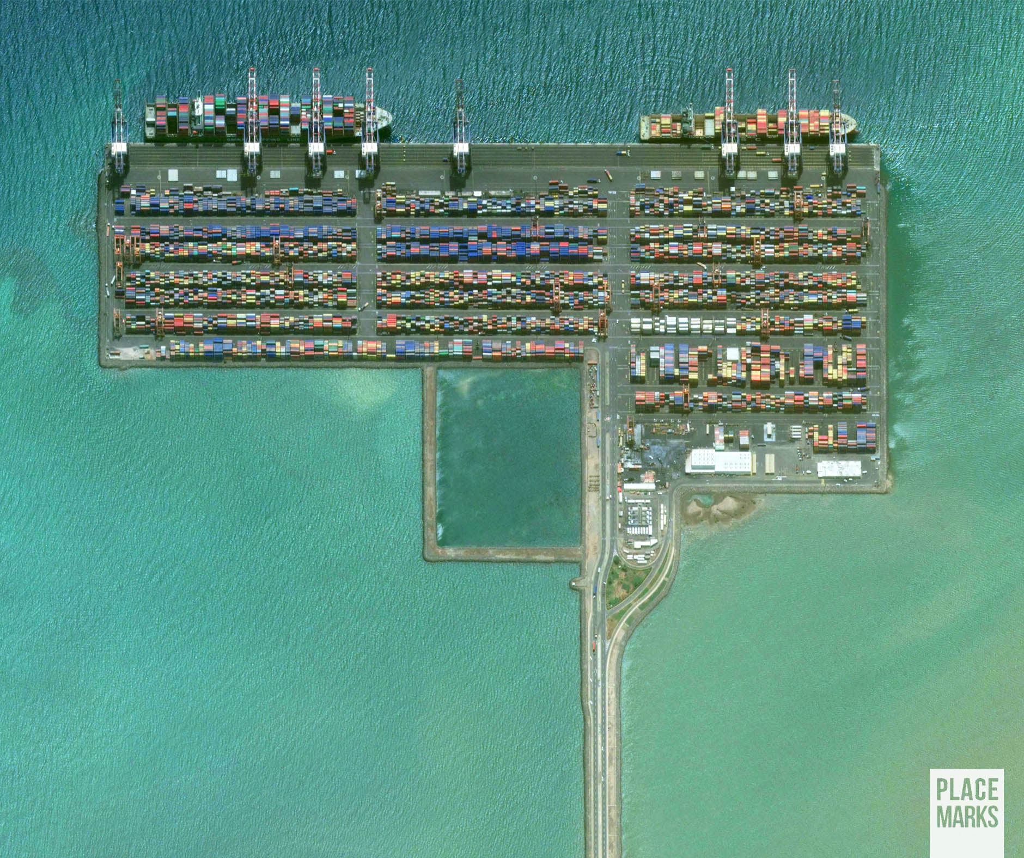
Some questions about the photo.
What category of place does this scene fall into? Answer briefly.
port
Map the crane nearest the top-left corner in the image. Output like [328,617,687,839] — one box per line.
[109,77,129,177]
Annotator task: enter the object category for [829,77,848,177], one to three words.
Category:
container crane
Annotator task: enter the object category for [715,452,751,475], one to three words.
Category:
building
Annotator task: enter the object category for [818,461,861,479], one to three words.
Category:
shed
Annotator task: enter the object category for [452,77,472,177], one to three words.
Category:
container crane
